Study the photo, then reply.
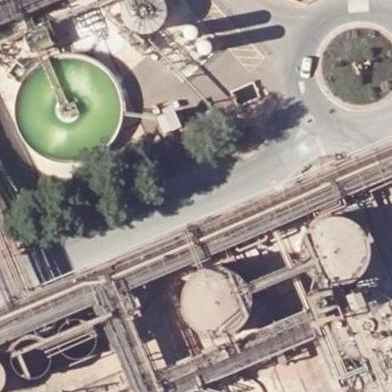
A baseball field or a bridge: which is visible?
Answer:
bridge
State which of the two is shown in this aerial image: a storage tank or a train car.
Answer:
storage tank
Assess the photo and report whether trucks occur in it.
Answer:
No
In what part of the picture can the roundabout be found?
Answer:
top right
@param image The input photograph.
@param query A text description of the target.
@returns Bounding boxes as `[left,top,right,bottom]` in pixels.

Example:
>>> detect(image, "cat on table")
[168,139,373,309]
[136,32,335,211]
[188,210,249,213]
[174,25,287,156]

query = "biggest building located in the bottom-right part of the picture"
[344,291,368,314]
